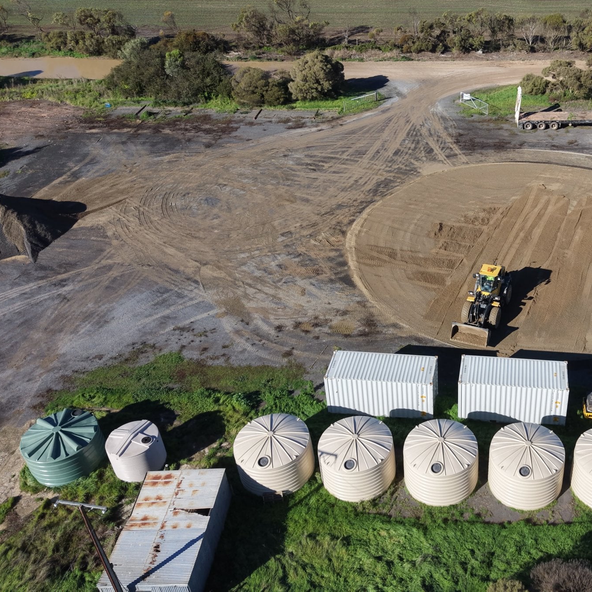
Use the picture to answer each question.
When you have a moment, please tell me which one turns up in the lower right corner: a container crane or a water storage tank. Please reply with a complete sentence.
The one visible in the lower right corner is a water storage tank.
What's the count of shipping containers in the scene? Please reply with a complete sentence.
The picture shows 2 shipping containers.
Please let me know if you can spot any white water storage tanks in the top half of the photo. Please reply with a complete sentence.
No, there is no white water storage tank in the top half of the photo.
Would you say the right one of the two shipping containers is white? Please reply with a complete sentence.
Yes, the right one of the two shipping containers is white.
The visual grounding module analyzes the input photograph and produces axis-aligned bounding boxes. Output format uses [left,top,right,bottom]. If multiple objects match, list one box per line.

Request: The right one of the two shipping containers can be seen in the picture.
[458,355,569,425]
